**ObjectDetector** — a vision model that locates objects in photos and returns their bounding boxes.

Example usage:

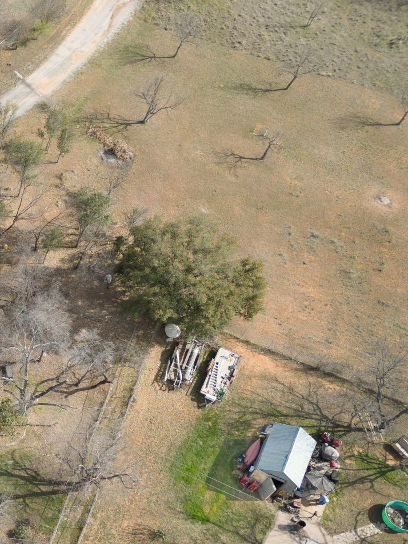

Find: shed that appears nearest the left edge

[239,424,315,501]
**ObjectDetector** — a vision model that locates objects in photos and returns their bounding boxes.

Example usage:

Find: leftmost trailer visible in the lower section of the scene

[165,342,202,399]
